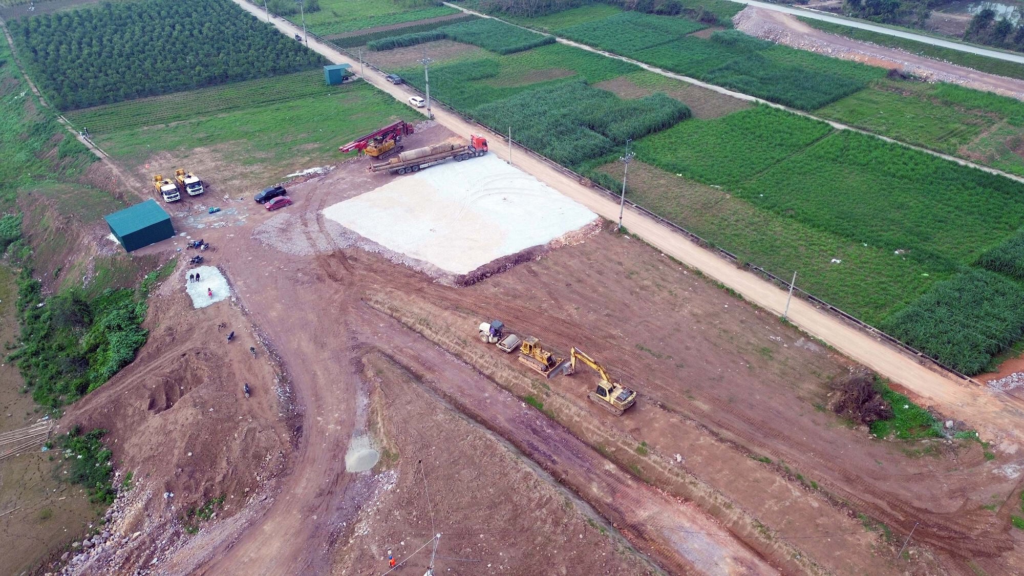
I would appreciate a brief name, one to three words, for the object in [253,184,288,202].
vehicle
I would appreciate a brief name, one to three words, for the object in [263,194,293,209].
car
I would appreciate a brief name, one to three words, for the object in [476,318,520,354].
work vehicle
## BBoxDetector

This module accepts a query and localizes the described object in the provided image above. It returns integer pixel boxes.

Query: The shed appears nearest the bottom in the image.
[96,194,173,247]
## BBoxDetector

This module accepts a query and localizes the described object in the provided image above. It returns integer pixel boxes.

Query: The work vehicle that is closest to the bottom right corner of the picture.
[560,346,639,419]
